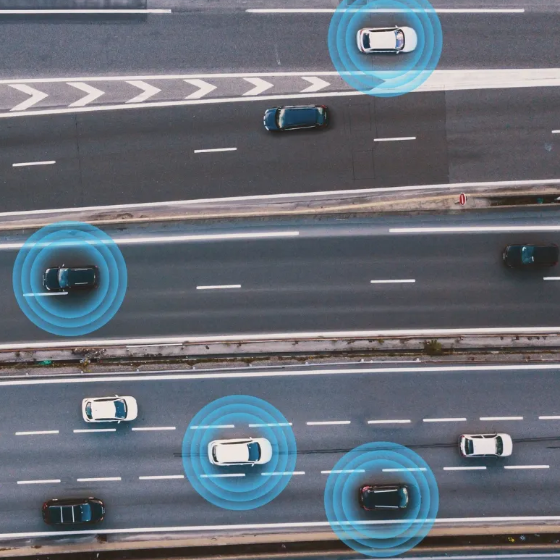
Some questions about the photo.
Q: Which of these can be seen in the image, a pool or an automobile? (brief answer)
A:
automobile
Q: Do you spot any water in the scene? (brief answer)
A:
No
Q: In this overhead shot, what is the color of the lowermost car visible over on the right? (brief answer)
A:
black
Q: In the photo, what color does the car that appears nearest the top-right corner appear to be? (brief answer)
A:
white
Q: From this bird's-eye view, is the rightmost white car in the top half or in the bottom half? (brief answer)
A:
bottom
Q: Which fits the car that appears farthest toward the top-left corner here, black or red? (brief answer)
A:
black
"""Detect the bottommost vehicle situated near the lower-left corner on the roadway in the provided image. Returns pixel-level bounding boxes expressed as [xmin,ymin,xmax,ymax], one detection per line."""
[42,495,104,527]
